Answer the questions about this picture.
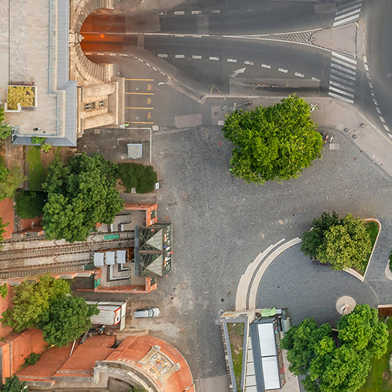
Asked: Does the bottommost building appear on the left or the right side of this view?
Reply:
right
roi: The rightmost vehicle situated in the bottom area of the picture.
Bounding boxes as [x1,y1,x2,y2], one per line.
[132,305,163,320]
